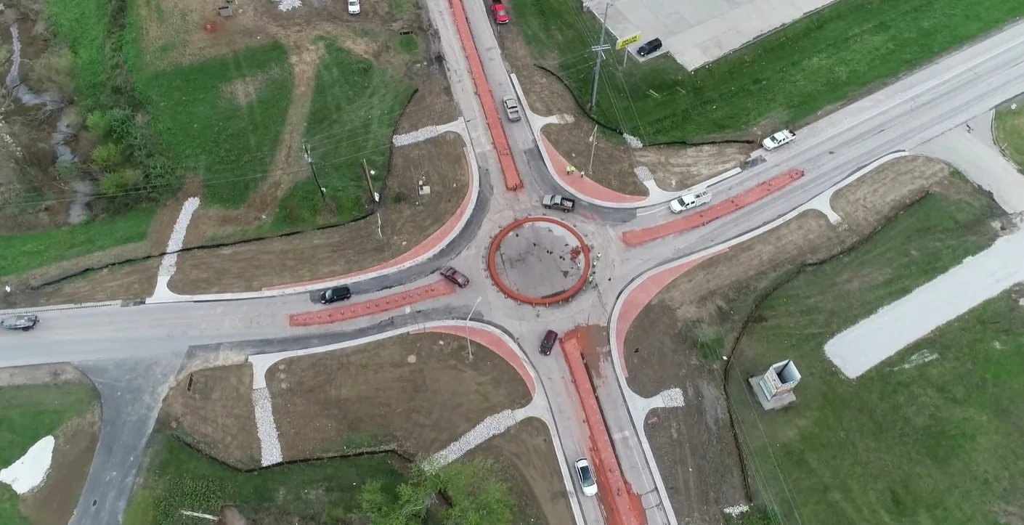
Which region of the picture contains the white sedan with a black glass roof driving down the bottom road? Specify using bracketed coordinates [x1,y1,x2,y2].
[574,458,598,498]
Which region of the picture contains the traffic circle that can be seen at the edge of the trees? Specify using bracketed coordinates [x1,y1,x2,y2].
[261,0,804,525]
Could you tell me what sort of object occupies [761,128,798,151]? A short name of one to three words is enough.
truck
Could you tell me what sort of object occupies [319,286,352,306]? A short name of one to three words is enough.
car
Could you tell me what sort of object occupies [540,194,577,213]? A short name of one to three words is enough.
vehicle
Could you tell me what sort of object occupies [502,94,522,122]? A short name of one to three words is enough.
vehicle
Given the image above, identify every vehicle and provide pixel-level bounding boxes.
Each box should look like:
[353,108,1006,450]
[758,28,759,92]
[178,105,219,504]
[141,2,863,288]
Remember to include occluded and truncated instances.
[635,35,664,57]
[761,128,798,151]
[574,458,598,498]
[540,194,577,213]
[538,327,560,359]
[491,0,507,22]
[670,187,714,211]
[502,94,522,122]
[439,264,471,290]
[347,0,360,12]
[319,286,352,306]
